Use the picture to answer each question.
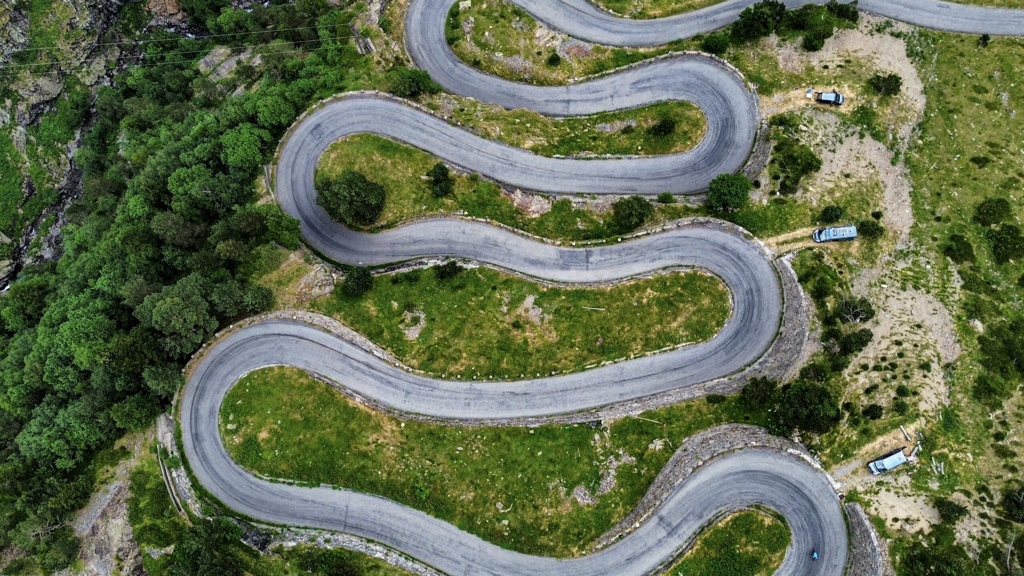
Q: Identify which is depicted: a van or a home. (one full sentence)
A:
Of the two, only a van appears.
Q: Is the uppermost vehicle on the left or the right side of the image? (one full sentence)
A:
The uppermost vehicle sits on the right side.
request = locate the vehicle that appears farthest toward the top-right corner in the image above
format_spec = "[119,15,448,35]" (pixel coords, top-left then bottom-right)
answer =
[814,87,845,107]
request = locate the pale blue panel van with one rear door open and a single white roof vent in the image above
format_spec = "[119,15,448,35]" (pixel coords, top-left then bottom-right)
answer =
[864,445,913,476]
